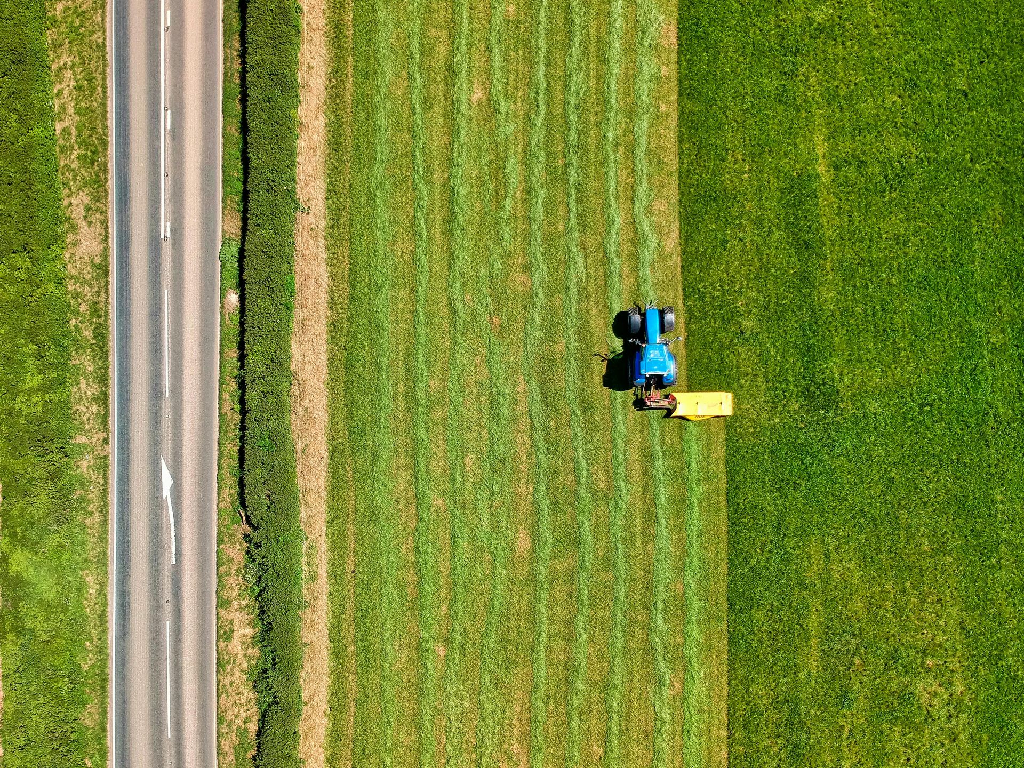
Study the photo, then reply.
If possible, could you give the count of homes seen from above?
none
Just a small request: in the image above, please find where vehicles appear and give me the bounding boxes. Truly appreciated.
[625,298,682,393]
